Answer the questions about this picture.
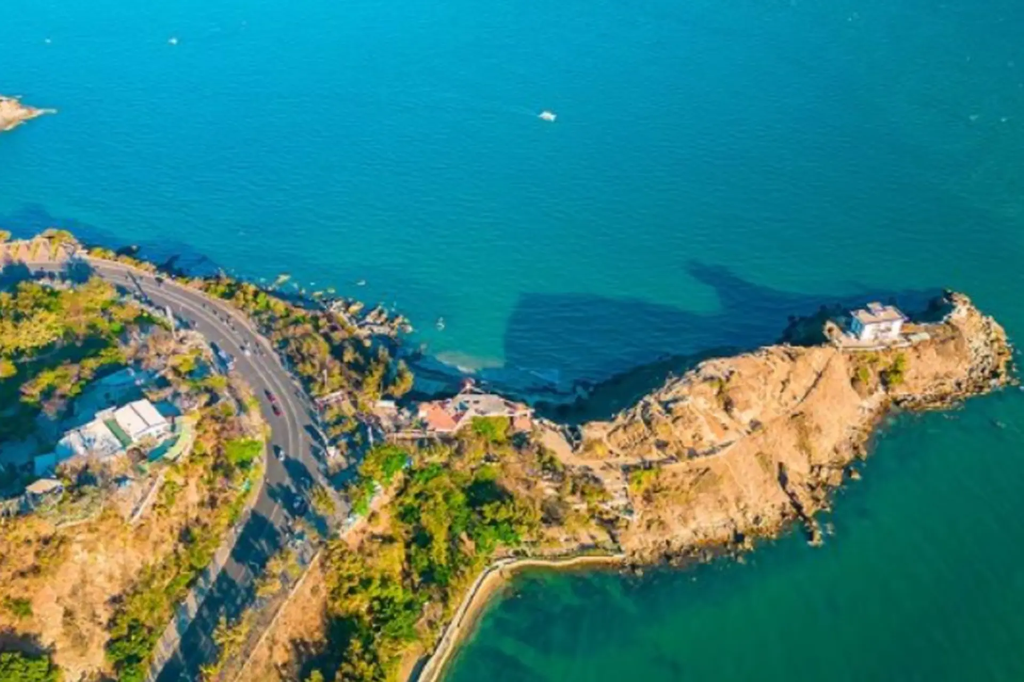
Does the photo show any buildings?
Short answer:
Yes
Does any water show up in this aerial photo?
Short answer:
Yes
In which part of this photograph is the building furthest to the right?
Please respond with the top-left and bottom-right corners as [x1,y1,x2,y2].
[839,303,914,348]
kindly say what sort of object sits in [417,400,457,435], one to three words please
building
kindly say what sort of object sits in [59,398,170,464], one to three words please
house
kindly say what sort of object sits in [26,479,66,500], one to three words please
shed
